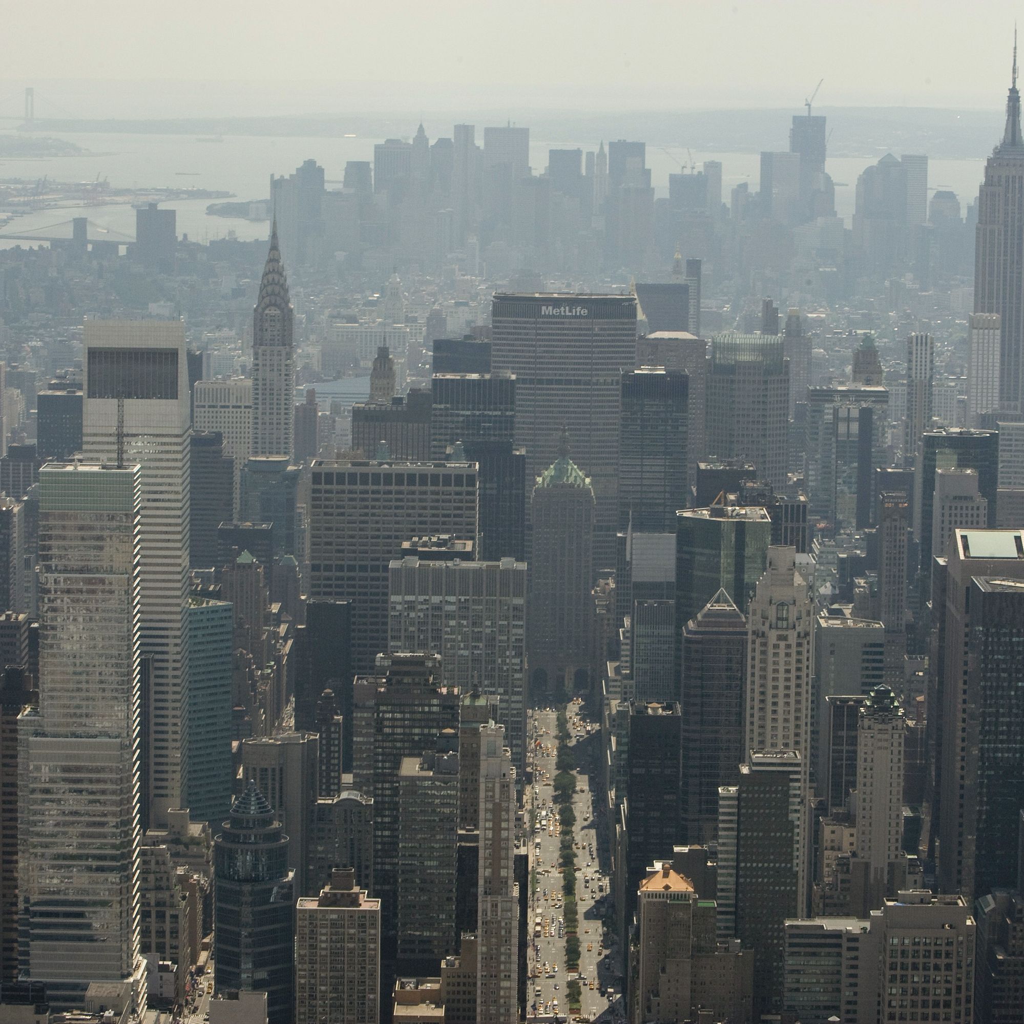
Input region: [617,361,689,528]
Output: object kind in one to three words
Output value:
building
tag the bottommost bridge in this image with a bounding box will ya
[0,217,135,249]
